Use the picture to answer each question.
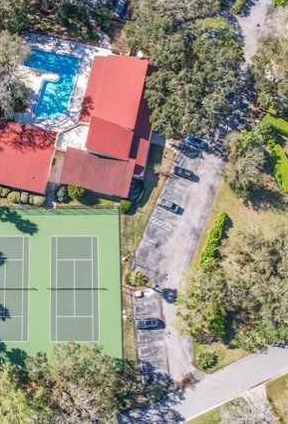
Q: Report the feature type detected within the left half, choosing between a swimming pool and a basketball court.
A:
swimming pool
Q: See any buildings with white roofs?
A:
No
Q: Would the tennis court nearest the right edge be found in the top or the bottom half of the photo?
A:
bottom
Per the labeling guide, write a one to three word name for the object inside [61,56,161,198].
building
